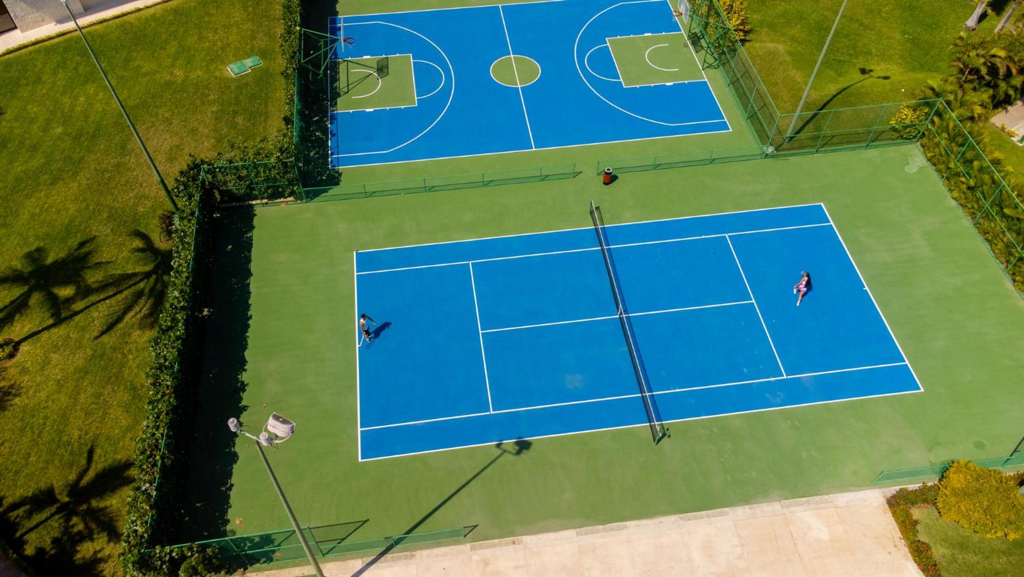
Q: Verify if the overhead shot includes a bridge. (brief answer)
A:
No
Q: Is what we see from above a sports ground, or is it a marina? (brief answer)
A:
sports ground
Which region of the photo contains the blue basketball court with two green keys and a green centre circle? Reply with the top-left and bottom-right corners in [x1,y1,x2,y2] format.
[302,0,763,200]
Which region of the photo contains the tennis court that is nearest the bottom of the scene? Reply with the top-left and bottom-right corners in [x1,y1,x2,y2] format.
[174,144,1024,570]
